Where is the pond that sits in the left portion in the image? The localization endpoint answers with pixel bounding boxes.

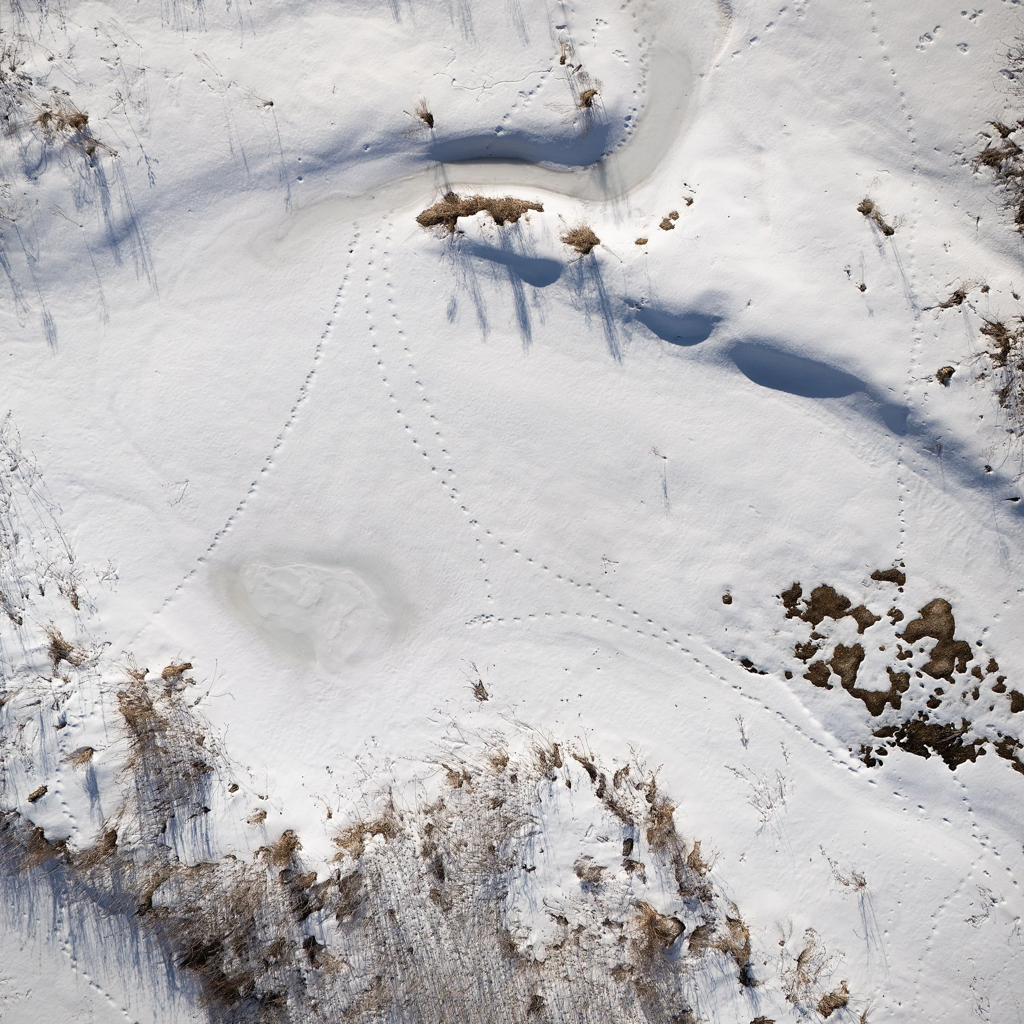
[233,559,391,673]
